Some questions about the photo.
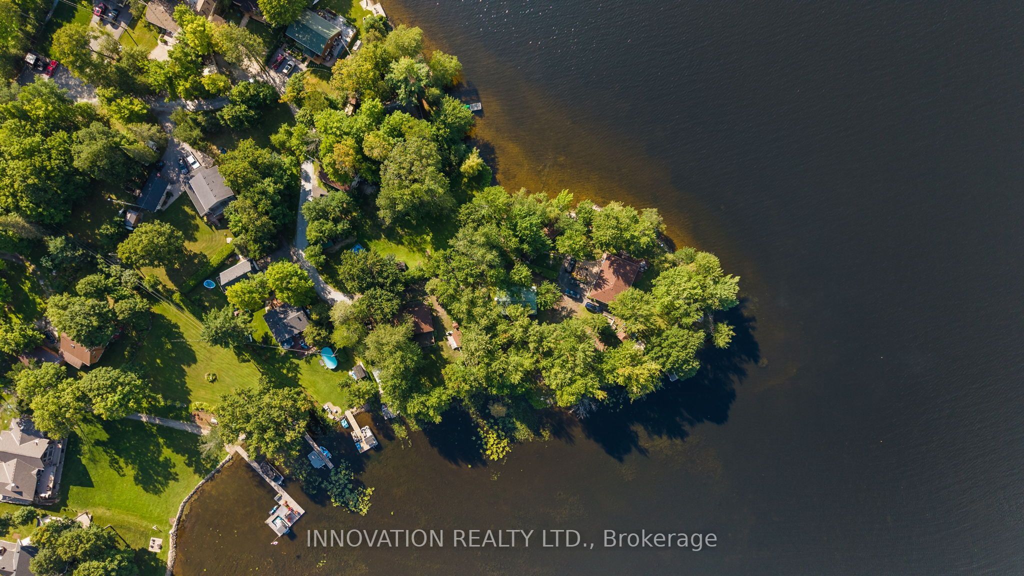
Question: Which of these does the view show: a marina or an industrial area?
marina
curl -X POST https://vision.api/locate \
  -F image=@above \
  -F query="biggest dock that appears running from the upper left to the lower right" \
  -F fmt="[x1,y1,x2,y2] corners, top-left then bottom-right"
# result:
[234,444,308,536]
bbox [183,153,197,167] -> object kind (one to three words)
vehicle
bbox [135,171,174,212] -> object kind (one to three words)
building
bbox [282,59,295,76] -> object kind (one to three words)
vehicle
